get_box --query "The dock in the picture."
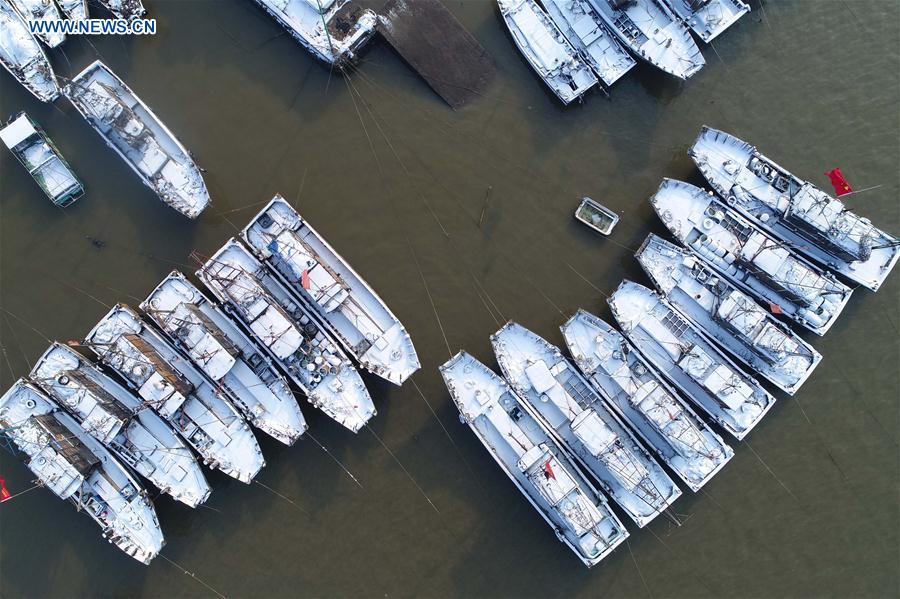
[365,0,493,113]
